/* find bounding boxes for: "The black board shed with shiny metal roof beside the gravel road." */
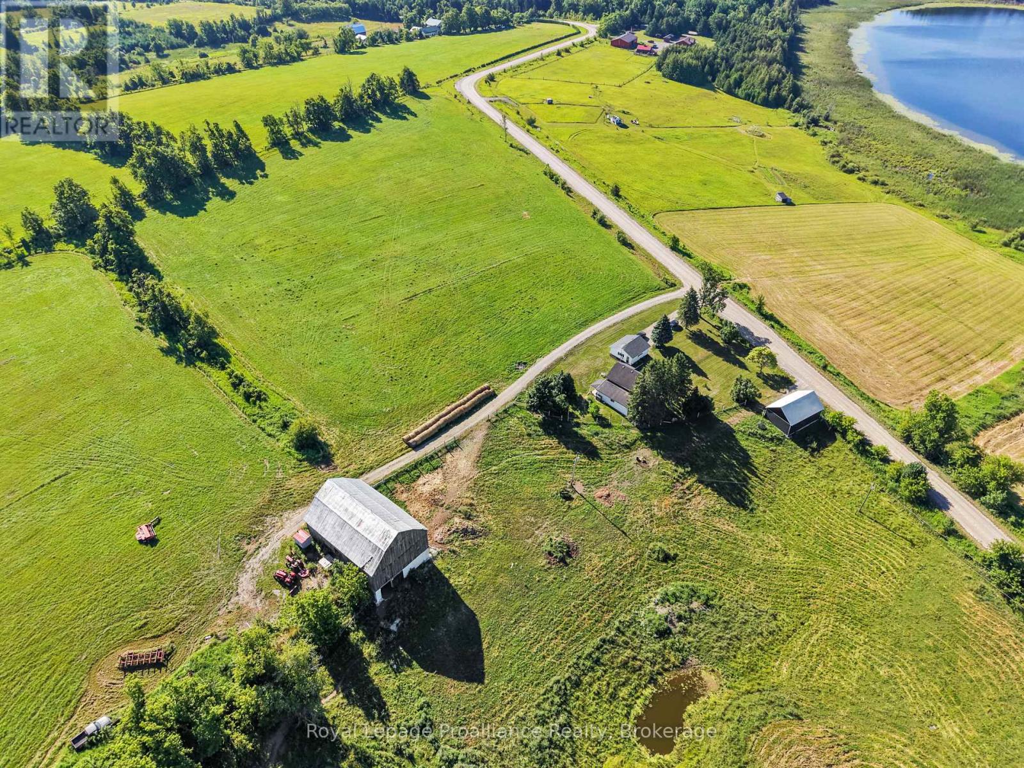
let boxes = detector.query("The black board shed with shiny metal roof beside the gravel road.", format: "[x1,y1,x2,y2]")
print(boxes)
[766,396,824,437]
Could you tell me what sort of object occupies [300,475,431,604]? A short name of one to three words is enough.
barn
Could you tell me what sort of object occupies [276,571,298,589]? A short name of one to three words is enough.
work vehicle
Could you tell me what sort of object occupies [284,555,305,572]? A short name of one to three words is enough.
work vehicle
